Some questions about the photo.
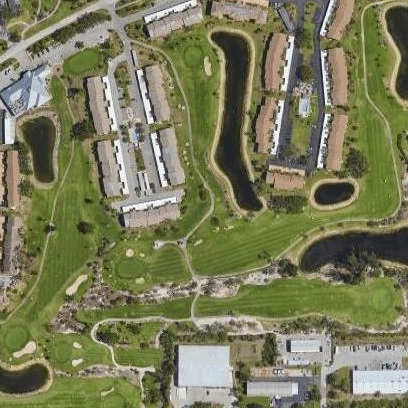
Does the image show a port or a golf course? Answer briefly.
golf course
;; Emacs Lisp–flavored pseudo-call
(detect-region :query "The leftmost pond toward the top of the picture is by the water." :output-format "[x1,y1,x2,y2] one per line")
[22,115,57,181]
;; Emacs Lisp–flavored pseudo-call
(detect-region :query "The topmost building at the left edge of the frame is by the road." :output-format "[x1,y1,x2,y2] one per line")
[0,63,54,115]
